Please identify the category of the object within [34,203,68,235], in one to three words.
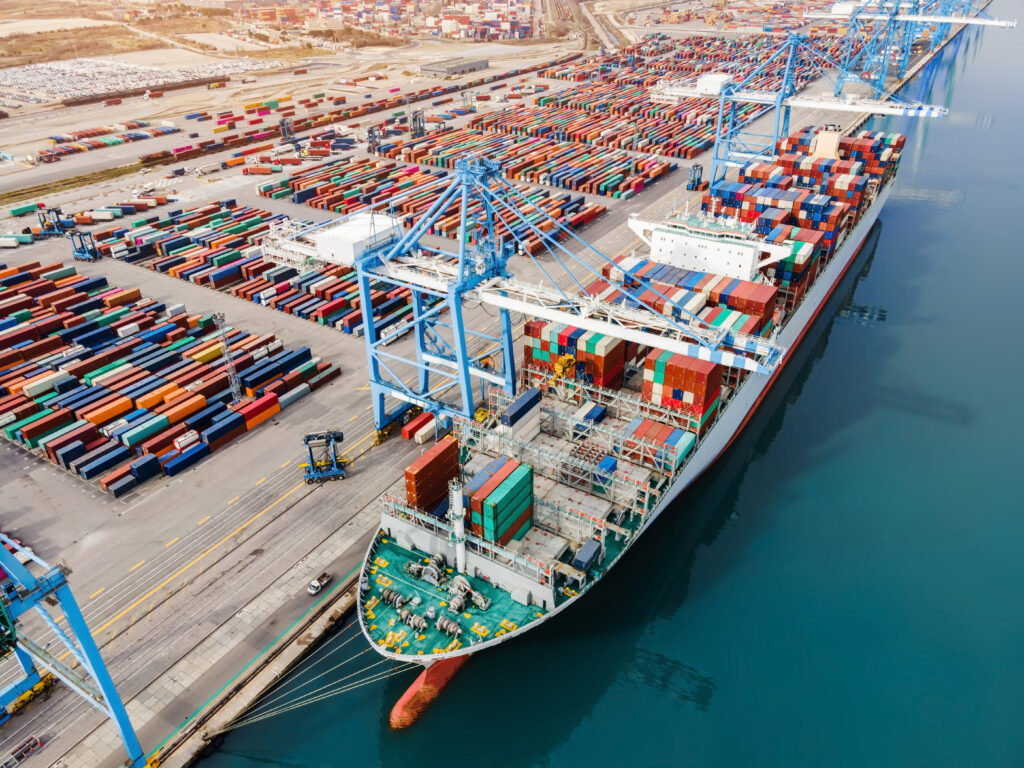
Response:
work vehicle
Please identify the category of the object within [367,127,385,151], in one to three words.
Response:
work vehicle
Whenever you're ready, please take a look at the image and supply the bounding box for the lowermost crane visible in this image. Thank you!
[0,529,171,768]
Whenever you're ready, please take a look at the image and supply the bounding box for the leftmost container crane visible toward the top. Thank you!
[249,143,782,442]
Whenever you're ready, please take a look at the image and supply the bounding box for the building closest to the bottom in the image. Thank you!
[388,55,487,81]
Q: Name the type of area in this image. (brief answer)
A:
port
